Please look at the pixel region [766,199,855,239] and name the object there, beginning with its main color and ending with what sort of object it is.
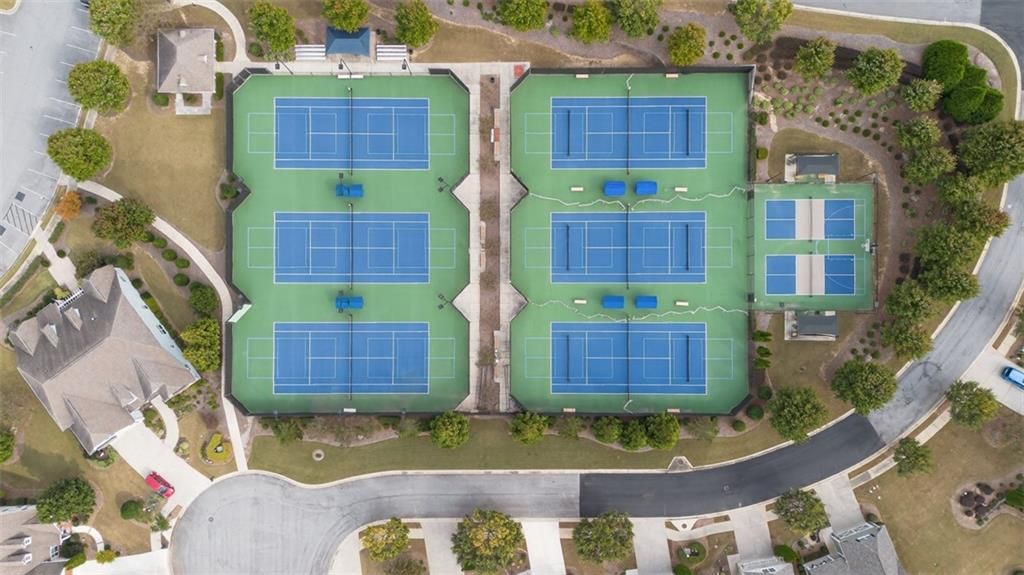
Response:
blue sports court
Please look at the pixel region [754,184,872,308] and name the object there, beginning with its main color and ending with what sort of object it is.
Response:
green sports court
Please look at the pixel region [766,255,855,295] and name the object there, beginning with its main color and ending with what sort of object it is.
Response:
blue sports court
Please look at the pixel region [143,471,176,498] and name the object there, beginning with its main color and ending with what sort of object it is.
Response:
red car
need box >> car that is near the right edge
[997,365,1024,387]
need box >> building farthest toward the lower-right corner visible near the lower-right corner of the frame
[805,518,908,575]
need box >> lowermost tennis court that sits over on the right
[511,301,748,412]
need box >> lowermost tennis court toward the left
[231,301,468,412]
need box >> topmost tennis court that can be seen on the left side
[233,75,468,191]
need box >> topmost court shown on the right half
[511,73,748,191]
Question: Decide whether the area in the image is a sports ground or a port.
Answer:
sports ground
